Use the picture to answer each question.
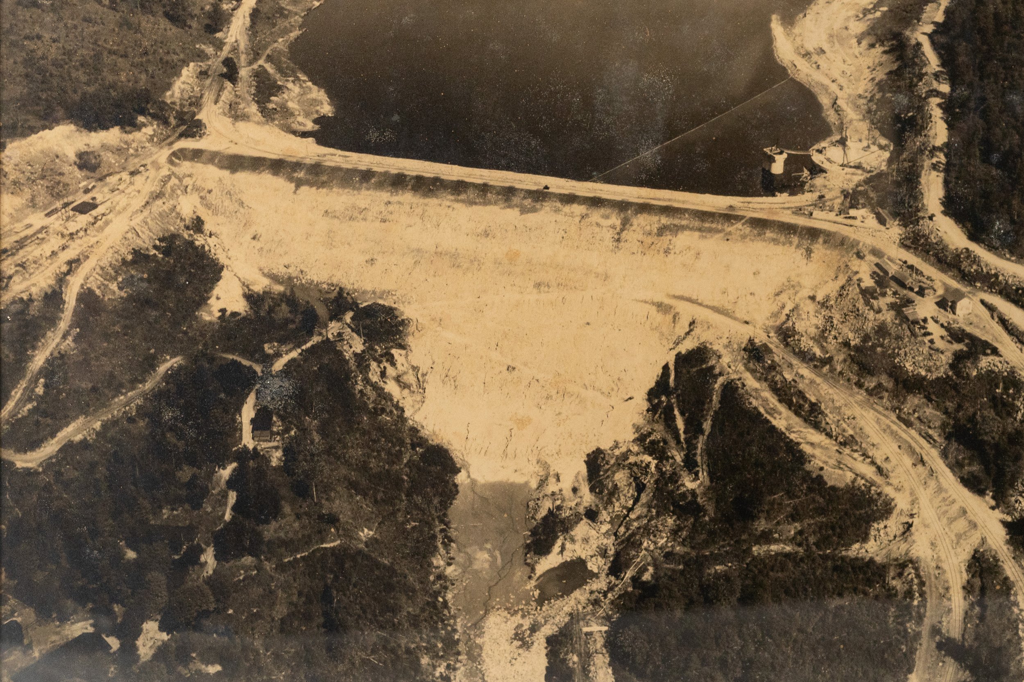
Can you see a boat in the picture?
No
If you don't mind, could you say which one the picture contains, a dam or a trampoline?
dam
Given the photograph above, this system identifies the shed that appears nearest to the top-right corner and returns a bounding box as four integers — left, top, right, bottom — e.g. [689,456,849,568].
[874,199,902,227]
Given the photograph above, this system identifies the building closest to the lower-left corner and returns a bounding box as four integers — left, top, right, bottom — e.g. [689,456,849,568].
[250,410,274,443]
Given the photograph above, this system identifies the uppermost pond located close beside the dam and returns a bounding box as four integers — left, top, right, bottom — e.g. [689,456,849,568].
[293,0,830,200]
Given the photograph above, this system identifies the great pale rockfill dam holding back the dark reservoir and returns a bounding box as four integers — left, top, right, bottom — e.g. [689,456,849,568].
[170,139,885,495]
